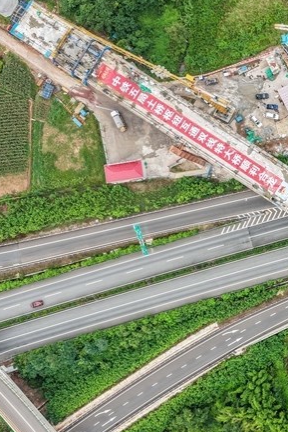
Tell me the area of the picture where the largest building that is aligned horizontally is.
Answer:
center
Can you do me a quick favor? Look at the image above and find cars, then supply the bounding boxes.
[250,114,262,127]
[265,103,279,109]
[204,77,218,85]
[29,301,43,309]
[254,92,269,100]
[264,112,279,120]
